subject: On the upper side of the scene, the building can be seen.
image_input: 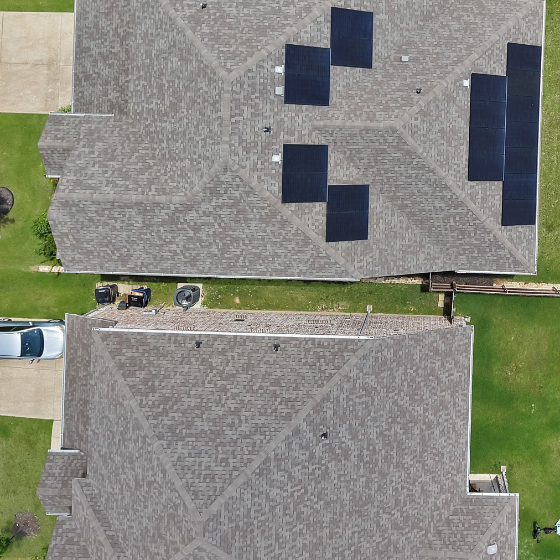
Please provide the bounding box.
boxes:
[37,0,548,283]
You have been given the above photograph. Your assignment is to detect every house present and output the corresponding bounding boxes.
[37,0,548,283]
[37,301,522,560]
